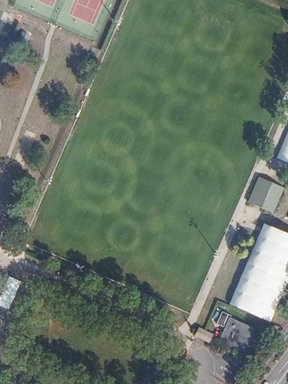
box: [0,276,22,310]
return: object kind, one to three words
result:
building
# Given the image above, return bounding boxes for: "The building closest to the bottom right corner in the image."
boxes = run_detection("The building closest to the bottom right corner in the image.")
[222,317,252,346]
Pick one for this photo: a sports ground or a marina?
sports ground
